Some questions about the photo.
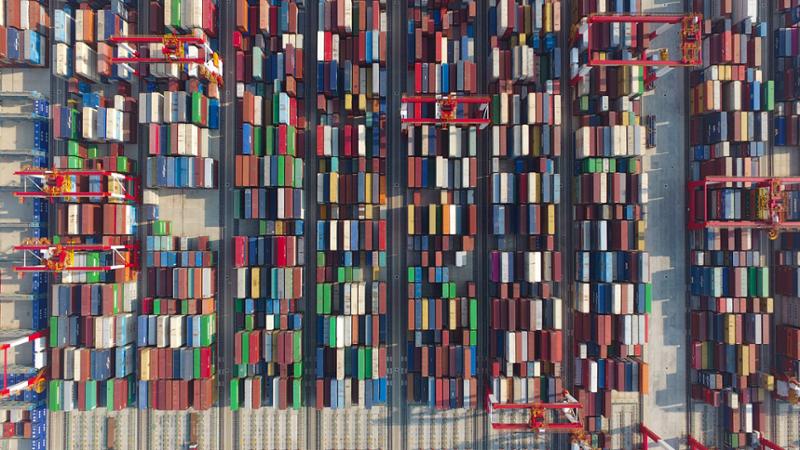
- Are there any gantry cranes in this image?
Yes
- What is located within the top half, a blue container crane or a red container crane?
red container crane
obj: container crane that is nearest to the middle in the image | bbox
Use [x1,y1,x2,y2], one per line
[400,93,491,140]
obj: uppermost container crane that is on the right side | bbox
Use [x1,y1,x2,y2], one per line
[566,10,705,84]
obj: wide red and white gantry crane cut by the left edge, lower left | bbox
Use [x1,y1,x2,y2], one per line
[0,328,48,396]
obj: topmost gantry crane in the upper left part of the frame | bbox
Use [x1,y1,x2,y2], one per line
[111,30,230,111]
